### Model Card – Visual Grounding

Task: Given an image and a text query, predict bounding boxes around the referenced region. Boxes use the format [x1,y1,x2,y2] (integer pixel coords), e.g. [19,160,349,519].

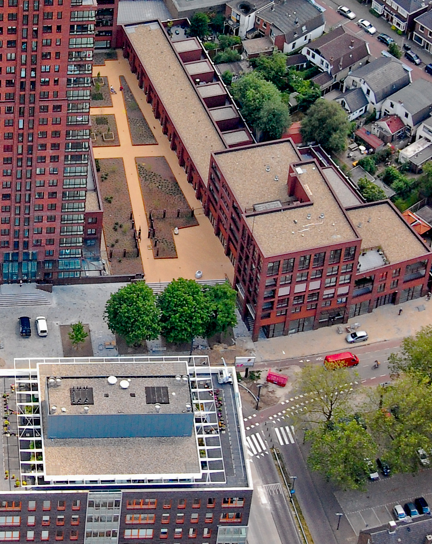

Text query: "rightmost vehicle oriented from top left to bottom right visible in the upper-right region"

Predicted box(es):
[403,50,424,66]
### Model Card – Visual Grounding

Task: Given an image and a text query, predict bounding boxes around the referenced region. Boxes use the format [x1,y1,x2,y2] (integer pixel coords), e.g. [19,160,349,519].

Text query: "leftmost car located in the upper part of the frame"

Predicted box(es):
[336,7,357,21]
